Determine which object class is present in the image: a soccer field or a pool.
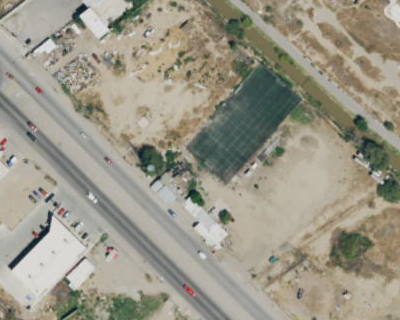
soccer field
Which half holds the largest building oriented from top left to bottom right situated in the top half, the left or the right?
left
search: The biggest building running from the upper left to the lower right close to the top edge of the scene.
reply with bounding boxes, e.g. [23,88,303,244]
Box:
[80,8,108,38]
